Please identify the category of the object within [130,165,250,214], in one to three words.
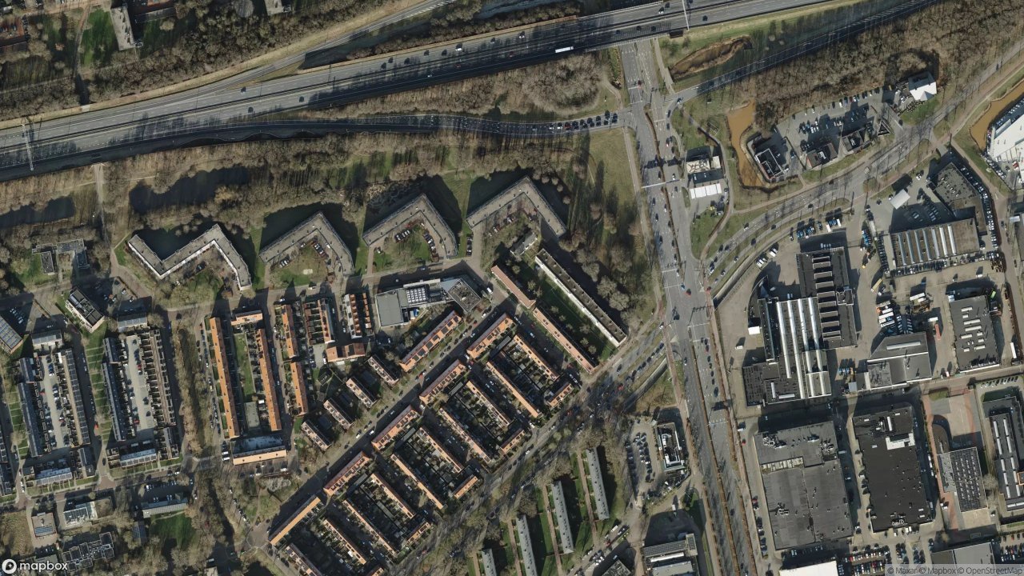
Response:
pond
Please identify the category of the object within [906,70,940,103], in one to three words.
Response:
building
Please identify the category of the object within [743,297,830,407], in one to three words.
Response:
building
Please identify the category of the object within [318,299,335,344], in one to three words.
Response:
house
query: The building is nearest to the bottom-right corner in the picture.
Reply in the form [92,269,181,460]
[953,542,999,576]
